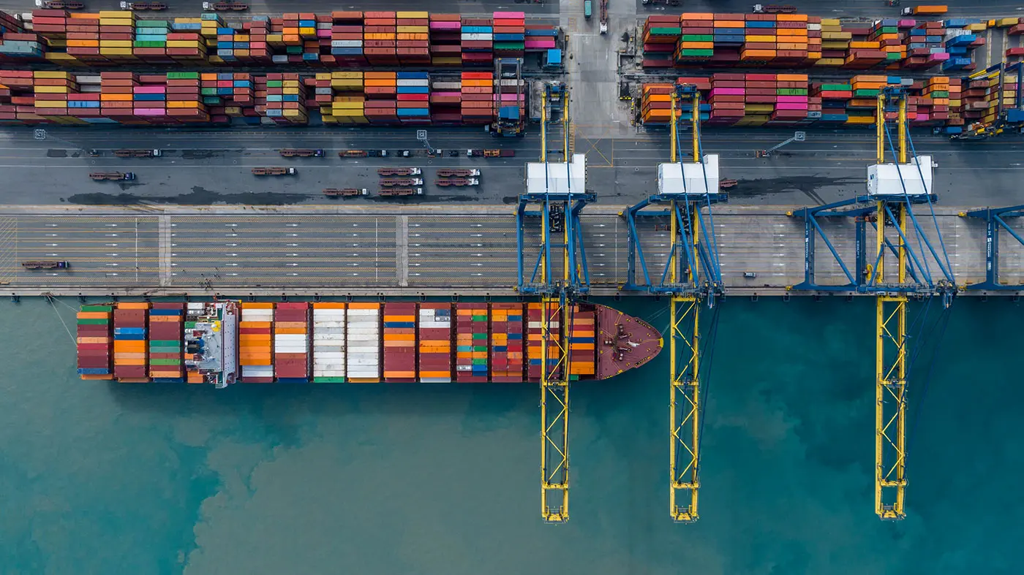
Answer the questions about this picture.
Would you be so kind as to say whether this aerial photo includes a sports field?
No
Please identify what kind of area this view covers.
port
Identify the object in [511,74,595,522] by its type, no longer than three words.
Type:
container crane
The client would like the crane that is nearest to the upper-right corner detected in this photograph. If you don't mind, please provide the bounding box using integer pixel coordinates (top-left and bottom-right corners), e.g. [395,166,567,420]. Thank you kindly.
[954,62,1024,140]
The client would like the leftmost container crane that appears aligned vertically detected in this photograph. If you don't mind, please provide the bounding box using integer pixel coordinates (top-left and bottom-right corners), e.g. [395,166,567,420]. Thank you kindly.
[492,59,526,139]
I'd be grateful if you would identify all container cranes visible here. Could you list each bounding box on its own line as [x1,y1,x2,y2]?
[786,76,961,520]
[954,62,1024,140]
[616,75,726,521]
[511,74,595,522]
[492,59,526,139]
[961,203,1024,290]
